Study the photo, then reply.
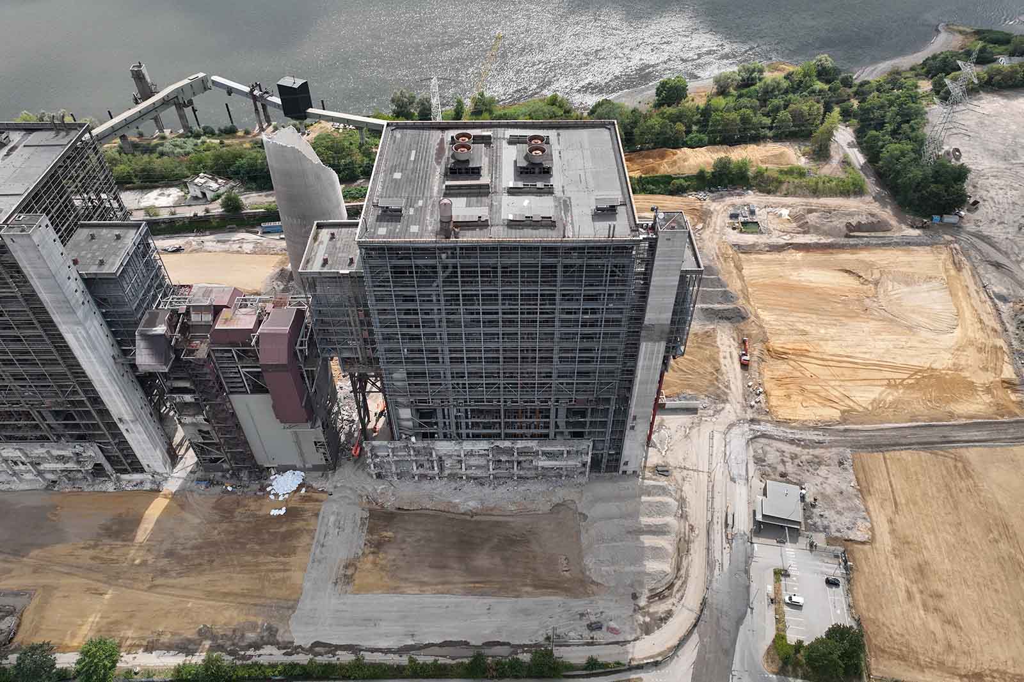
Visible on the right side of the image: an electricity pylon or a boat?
electricity pylon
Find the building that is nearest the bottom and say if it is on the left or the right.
right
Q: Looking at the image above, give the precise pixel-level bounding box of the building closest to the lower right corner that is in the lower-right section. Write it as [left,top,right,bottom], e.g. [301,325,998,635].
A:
[762,480,814,536]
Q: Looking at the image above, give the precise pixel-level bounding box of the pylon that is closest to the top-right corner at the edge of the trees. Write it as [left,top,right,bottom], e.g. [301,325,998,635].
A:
[932,46,998,157]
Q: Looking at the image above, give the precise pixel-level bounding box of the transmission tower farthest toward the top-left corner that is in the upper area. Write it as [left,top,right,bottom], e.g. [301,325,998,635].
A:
[419,72,455,118]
